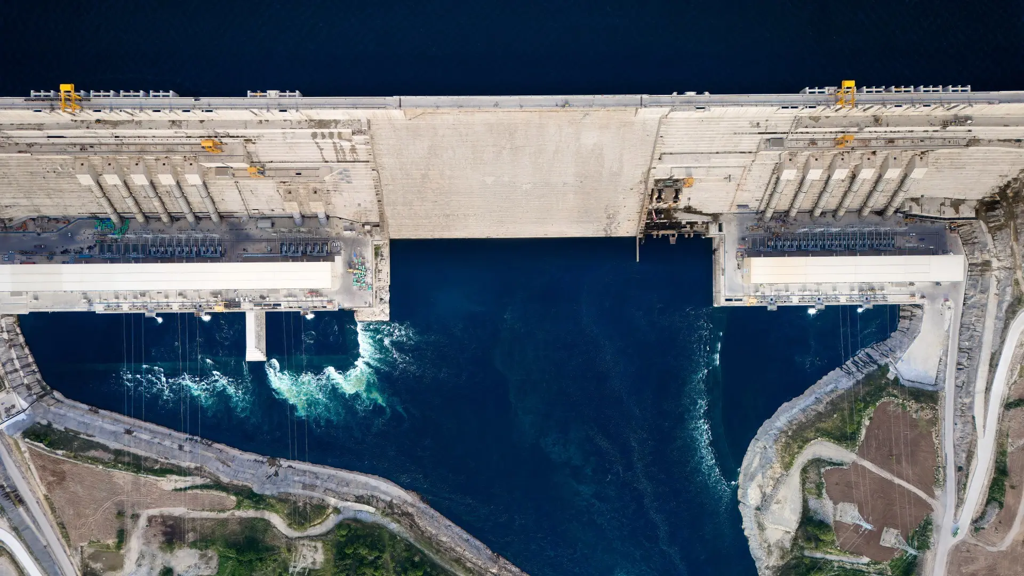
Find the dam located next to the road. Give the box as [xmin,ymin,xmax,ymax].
[0,91,1024,238]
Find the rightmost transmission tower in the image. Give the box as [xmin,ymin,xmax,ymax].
[881,527,923,558]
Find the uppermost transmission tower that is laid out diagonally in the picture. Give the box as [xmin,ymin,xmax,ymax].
[836,503,876,532]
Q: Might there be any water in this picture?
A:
Yes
